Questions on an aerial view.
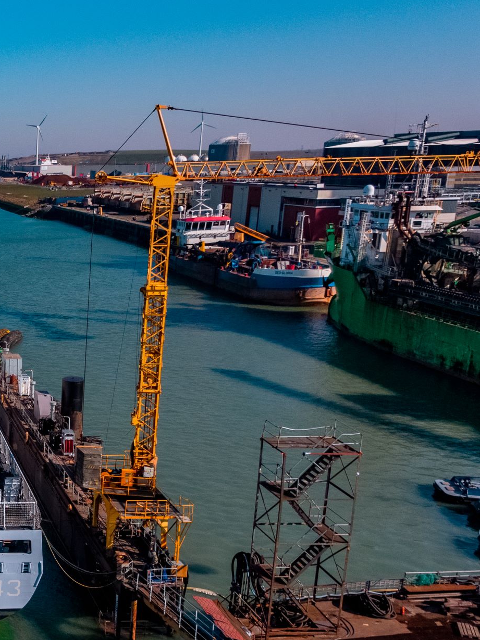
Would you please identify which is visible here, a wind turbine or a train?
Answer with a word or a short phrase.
wind turbine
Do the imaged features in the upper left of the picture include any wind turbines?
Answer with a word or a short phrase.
Yes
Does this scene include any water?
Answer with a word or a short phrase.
Yes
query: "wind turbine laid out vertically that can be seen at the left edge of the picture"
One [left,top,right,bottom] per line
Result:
[22,108,48,166]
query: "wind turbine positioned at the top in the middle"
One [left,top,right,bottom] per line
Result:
[182,99,224,148]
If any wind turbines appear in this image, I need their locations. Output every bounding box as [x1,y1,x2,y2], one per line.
[182,99,224,148]
[22,108,48,166]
